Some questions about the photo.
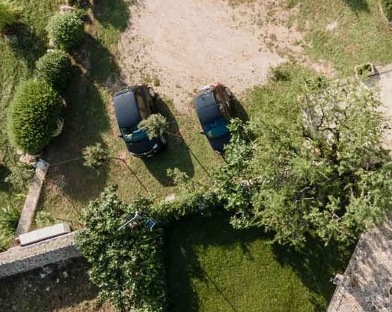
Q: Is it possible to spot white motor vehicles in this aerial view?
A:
No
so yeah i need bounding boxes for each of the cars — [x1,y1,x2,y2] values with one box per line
[195,86,236,157]
[118,87,164,162]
